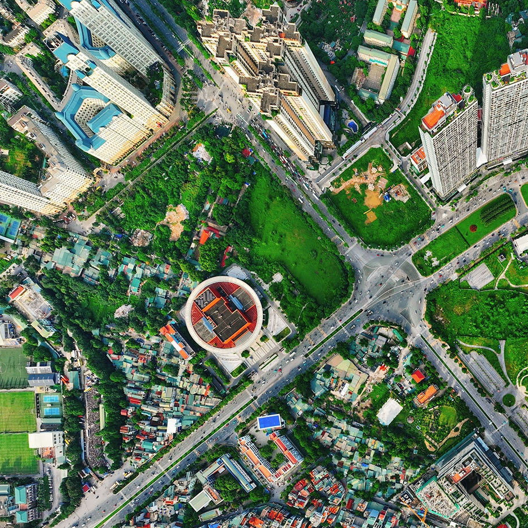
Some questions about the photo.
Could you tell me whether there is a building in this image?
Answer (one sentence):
Yes, the image includes a building.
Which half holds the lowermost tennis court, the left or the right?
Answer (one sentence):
The lowermost tennis court appears in the left half of the scene.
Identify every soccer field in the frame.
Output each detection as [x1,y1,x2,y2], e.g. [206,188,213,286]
[0,348,30,388]
[0,391,36,432]
[0,434,38,475]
